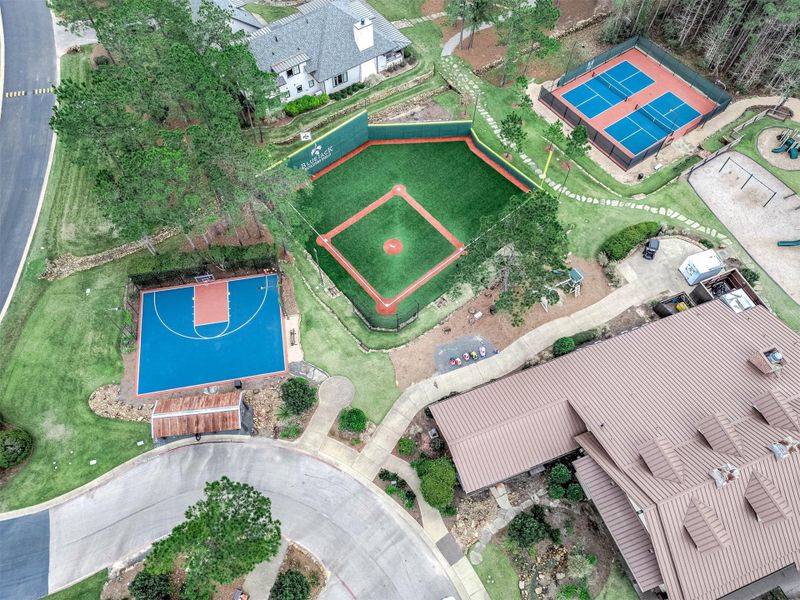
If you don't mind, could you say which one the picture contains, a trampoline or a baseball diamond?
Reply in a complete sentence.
I can see a baseball diamond in this picture.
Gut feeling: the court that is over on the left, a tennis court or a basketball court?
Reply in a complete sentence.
I'd say the court that is over on the left is a basketball court.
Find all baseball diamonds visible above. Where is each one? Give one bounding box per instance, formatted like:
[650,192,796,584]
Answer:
[270,139,555,328]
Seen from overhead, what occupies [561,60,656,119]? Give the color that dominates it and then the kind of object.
blue sports court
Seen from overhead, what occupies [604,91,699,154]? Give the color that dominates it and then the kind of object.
blue sports court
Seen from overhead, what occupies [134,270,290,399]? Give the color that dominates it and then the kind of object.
blue basketball court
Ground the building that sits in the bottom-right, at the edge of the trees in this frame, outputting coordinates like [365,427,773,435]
[428,299,800,600]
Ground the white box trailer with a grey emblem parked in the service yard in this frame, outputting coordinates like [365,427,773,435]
[681,251,727,287]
